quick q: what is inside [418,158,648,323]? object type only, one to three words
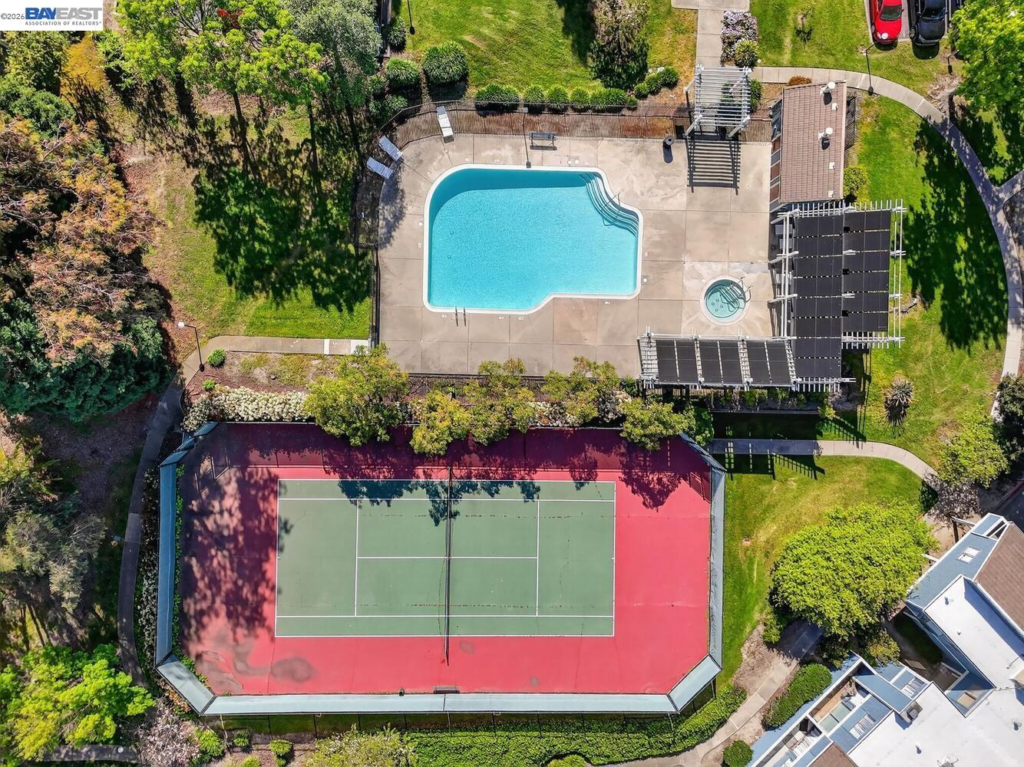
swimming pool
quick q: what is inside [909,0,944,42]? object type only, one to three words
car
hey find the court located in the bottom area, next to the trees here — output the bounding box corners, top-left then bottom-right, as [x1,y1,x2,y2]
[171,420,713,696]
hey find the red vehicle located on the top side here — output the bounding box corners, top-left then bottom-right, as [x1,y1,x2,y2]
[869,0,903,40]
